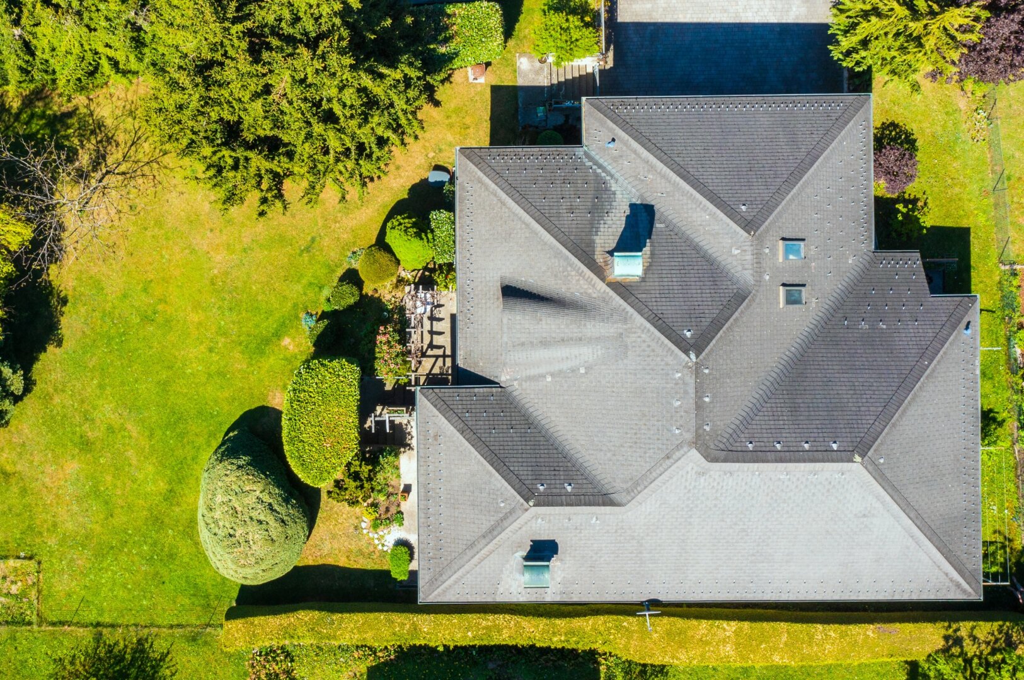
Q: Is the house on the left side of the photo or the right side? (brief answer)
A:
right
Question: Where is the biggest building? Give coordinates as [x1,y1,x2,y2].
[412,91,985,607]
